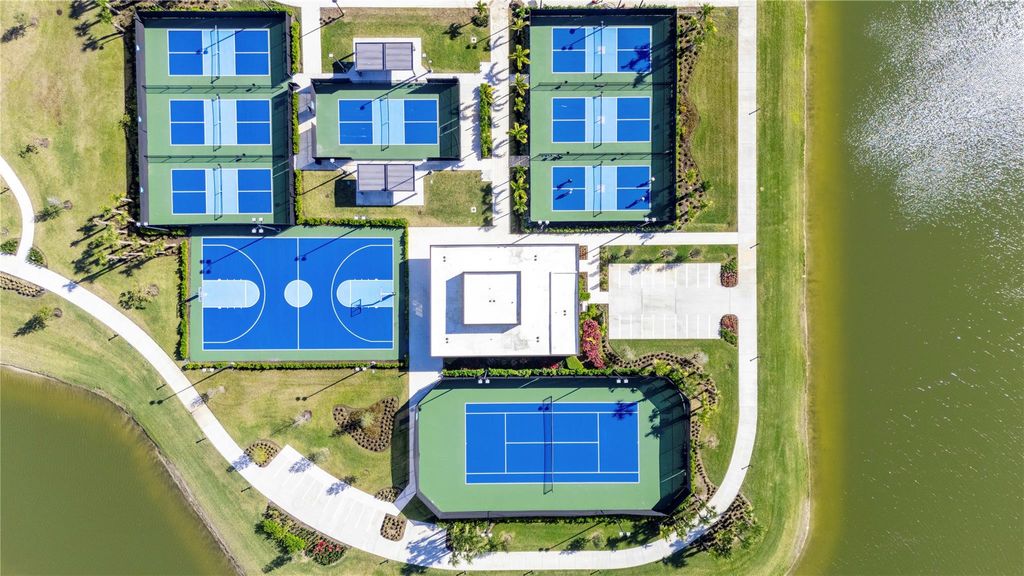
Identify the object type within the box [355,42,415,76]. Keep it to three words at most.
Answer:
building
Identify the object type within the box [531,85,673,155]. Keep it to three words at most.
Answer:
sports court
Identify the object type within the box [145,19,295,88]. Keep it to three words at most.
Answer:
sports court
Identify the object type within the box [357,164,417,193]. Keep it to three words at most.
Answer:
building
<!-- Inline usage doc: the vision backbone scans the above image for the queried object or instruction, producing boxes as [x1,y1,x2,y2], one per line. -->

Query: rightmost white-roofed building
[430,244,580,357]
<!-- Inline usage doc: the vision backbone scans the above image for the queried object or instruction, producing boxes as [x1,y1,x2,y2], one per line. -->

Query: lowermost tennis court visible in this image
[418,378,684,511]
